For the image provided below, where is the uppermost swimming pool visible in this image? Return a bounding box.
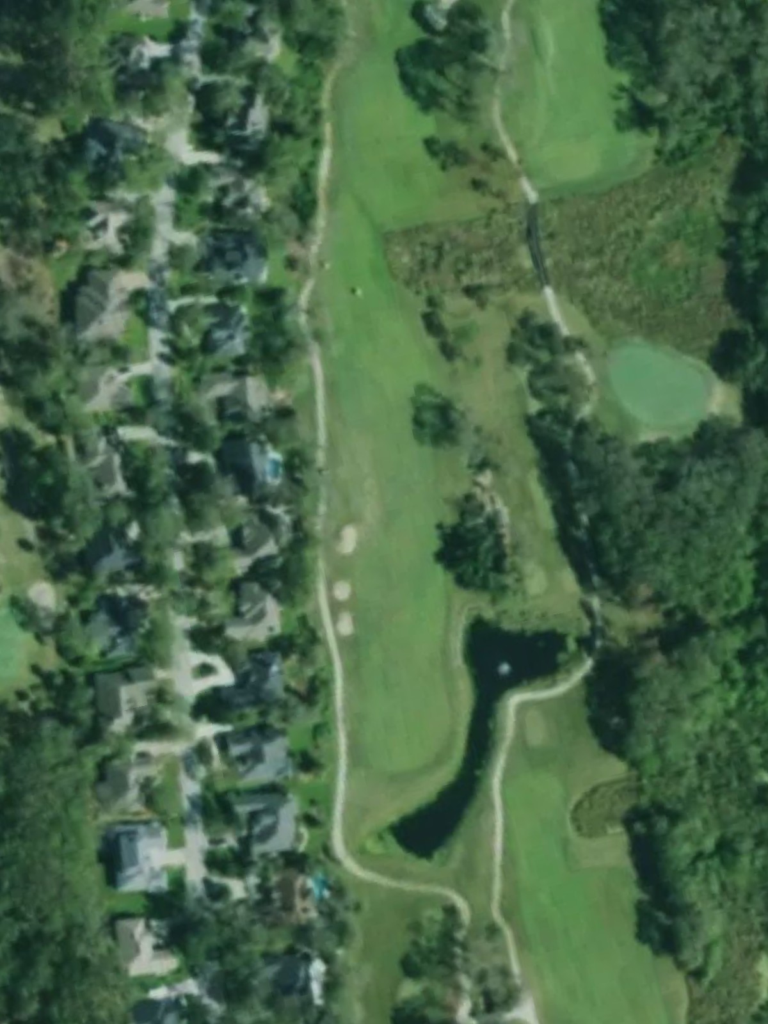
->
[265,443,284,485]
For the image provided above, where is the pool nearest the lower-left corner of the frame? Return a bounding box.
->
[308,869,331,900]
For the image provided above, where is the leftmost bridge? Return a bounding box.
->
[525,199,553,293]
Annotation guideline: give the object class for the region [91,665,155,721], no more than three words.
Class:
house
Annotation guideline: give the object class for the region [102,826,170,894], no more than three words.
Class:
house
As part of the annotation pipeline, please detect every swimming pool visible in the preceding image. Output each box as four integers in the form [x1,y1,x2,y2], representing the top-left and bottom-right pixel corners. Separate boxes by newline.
[265,443,284,485]
[308,869,331,900]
